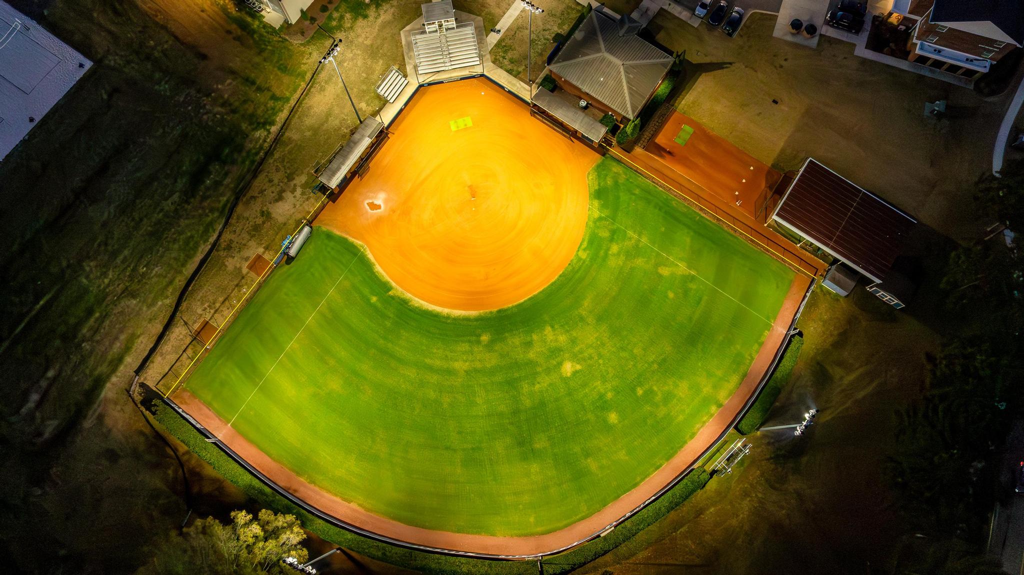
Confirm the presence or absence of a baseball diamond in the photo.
Yes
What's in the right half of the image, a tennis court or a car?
car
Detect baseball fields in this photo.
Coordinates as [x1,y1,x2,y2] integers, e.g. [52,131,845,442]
[168,76,819,555]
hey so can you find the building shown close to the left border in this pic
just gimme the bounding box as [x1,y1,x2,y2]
[0,0,97,175]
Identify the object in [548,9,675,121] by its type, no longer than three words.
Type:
building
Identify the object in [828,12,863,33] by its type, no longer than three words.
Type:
car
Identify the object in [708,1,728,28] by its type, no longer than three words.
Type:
car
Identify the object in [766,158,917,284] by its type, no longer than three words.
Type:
building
